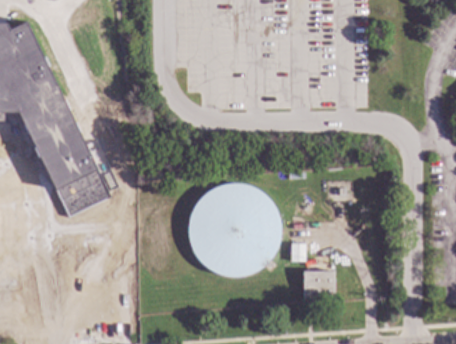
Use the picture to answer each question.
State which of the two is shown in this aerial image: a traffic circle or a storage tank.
storage tank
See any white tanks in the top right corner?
No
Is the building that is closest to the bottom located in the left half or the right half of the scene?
right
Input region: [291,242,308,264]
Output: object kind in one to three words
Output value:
shed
